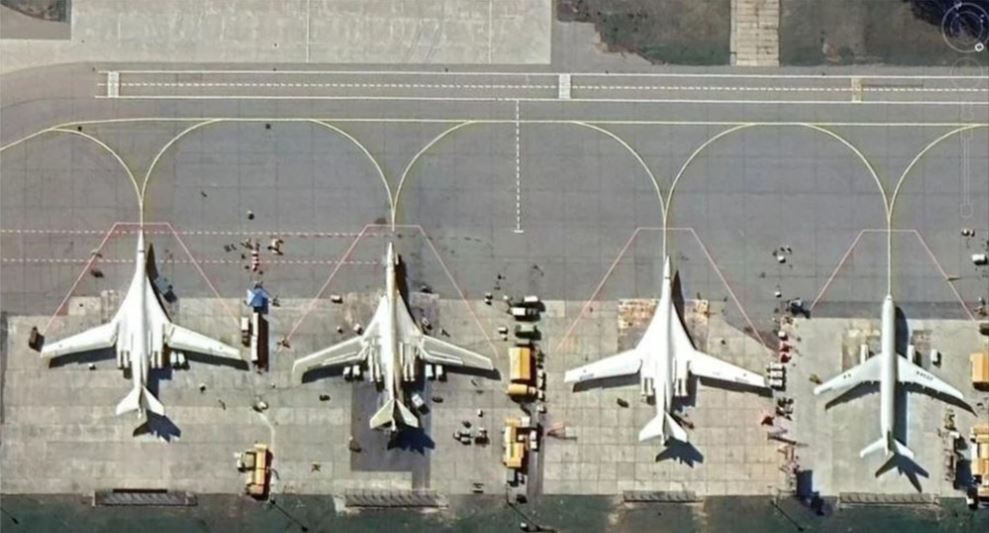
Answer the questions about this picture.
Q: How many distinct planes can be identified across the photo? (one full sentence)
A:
The count of planes comes to 4.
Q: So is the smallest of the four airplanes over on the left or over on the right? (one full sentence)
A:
You can find the smallest of the four airplanes on the right side of the picture.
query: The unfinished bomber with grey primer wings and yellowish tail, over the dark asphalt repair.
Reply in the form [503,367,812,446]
[292,241,494,431]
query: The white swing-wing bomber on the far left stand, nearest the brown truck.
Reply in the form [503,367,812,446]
[39,230,240,418]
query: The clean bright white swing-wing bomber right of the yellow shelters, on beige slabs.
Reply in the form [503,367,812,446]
[564,257,766,444]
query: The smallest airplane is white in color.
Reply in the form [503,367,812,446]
[815,295,962,457]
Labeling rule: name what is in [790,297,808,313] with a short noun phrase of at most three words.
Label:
work vehicle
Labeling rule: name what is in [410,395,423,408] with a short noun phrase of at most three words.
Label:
vehicle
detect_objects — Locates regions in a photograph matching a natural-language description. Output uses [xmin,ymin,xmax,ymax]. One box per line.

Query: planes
[815,295,962,457]
[564,257,766,444]
[39,230,240,418]
[292,241,494,431]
